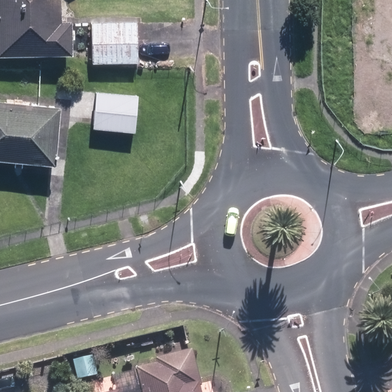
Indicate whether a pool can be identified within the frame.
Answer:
No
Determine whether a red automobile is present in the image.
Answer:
No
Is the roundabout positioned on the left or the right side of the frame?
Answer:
right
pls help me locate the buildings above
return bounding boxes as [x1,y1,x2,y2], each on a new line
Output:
[72,354,98,376]
[92,92,140,134]
[91,22,139,66]
[0,102,62,168]
[0,0,74,58]
[136,348,204,392]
